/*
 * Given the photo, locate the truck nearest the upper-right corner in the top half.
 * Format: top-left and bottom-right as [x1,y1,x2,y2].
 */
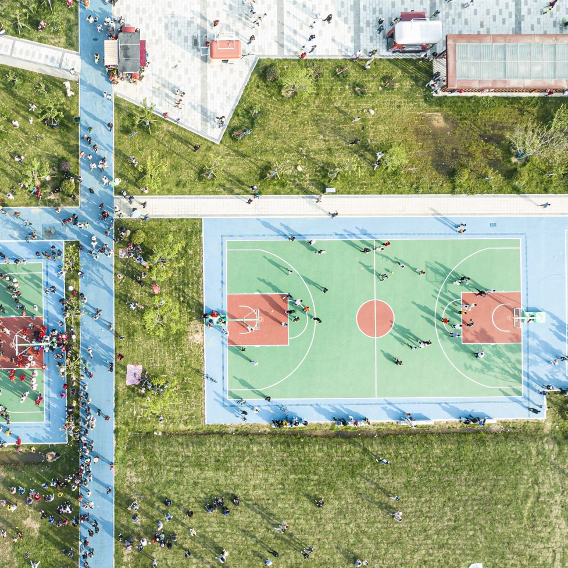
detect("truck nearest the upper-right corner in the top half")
[375,14,440,53]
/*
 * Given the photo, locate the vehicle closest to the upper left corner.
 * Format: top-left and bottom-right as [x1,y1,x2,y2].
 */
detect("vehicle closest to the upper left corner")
[104,27,146,88]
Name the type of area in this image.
sports ground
